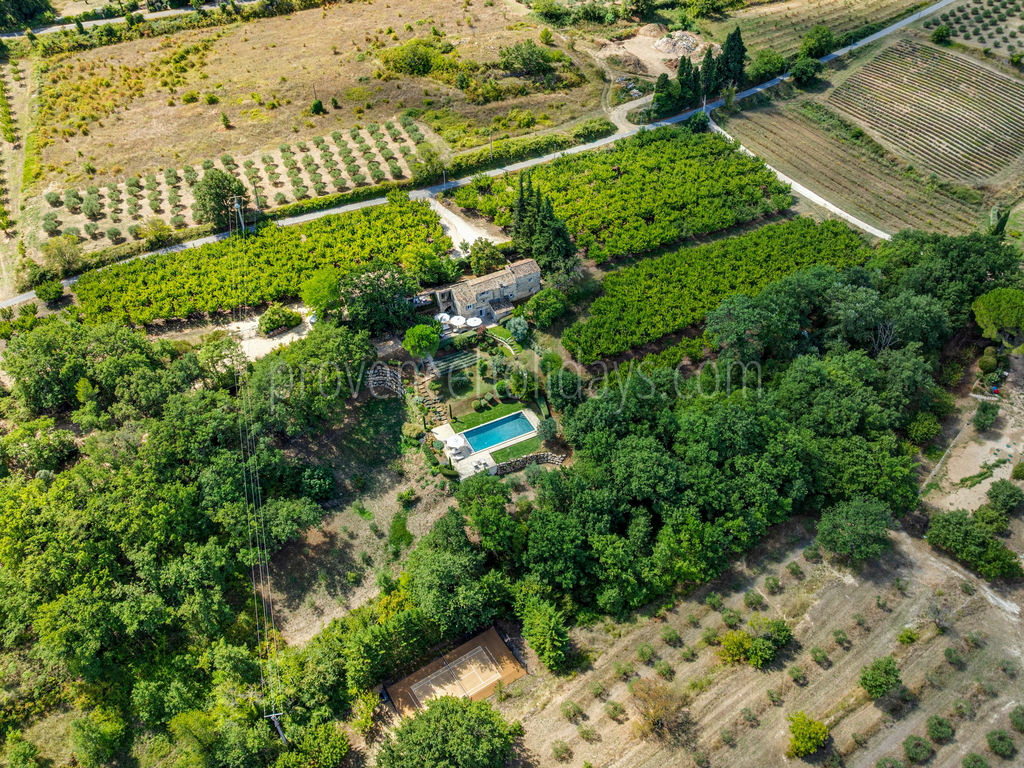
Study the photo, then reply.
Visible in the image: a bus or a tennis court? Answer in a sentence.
There is a tennis court in the scene.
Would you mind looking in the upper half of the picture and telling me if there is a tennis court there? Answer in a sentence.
No, I see no tennis court in the upper half of the picture.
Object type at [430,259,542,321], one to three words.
house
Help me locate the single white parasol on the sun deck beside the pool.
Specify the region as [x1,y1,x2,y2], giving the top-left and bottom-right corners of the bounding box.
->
[447,436,464,453]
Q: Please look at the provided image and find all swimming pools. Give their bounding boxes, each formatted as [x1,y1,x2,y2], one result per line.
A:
[456,410,537,455]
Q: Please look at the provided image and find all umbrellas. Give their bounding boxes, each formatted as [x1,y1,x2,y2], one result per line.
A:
[435,314,450,323]
[447,436,464,453]
[451,317,466,331]
[467,318,482,332]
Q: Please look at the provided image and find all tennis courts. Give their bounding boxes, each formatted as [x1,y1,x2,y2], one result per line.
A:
[387,627,526,739]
